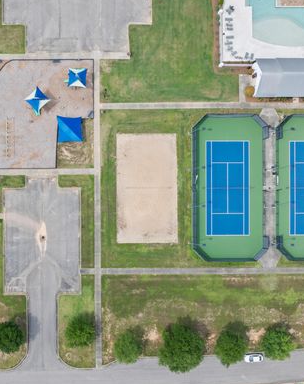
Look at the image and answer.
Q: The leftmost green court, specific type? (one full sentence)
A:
It turns out the leftmost green court is a tennis court.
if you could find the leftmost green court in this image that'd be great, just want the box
[195,114,264,261]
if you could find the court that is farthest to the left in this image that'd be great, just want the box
[116,133,178,244]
